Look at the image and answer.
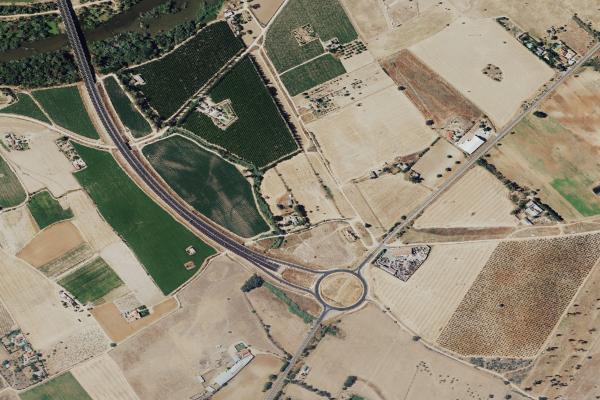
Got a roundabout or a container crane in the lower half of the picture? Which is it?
roundabout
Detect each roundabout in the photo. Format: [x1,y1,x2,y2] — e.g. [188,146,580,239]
[312,266,371,326]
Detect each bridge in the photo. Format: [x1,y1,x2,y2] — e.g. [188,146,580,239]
[56,0,94,86]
